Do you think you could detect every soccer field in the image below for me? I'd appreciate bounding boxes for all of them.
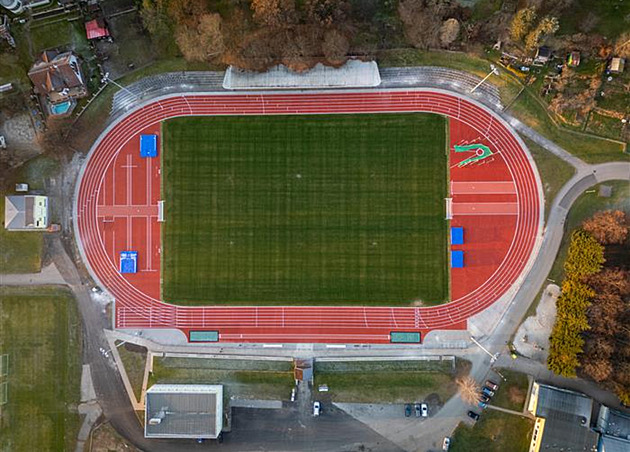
[161,113,450,306]
[0,293,79,452]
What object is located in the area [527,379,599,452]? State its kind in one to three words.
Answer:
building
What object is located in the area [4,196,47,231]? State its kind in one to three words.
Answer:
house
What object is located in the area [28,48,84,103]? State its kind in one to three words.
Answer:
house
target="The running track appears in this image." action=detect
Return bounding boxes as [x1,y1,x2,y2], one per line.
[74,88,544,344]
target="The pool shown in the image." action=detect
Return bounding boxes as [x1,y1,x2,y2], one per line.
[48,97,77,116]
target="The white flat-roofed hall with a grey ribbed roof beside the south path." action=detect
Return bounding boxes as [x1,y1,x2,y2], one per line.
[145,384,223,438]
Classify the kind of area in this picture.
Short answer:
sports ground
